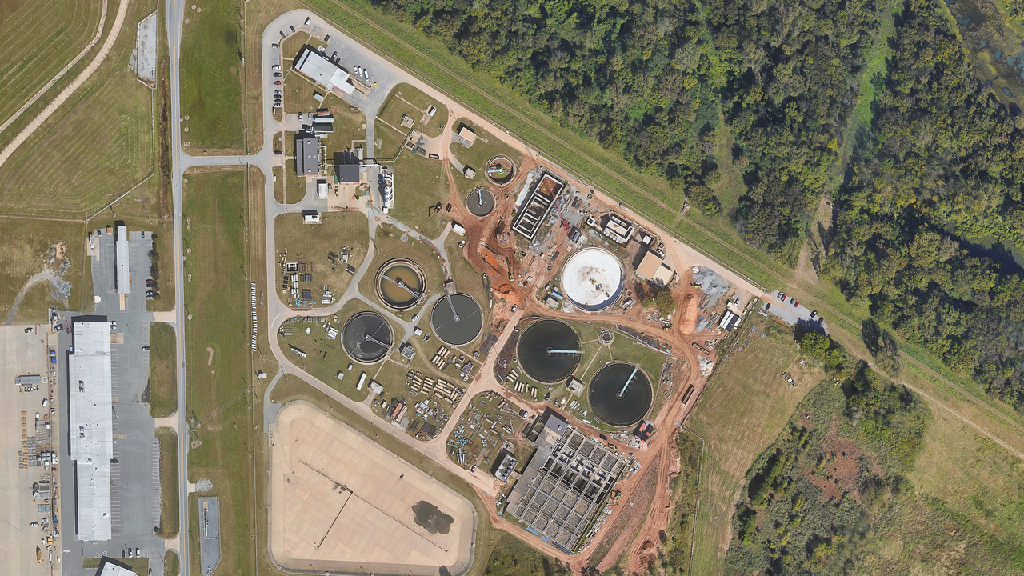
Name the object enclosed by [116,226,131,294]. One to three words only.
building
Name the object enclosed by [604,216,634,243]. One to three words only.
building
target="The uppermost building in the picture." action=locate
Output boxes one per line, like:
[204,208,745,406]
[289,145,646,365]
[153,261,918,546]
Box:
[295,46,355,95]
